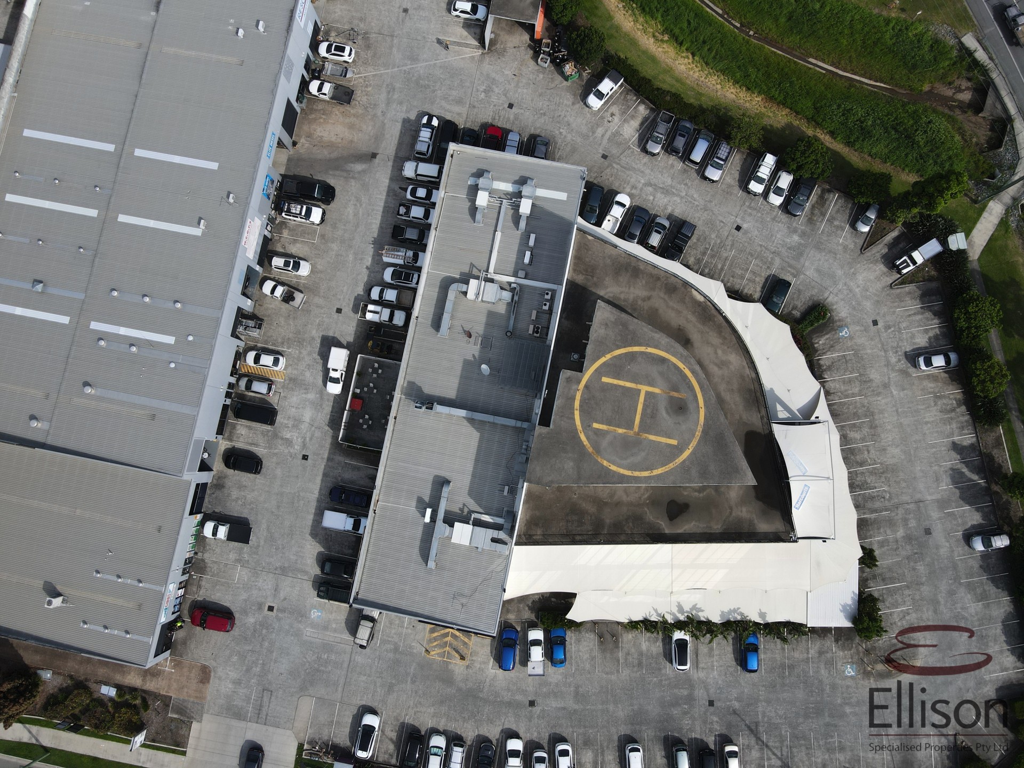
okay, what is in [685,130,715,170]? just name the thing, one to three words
van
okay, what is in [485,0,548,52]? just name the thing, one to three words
building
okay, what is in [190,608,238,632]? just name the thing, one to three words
car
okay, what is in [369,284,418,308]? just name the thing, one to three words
truck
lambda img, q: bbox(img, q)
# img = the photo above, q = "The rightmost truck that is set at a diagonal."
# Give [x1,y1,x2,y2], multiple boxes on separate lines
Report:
[892,235,947,276]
